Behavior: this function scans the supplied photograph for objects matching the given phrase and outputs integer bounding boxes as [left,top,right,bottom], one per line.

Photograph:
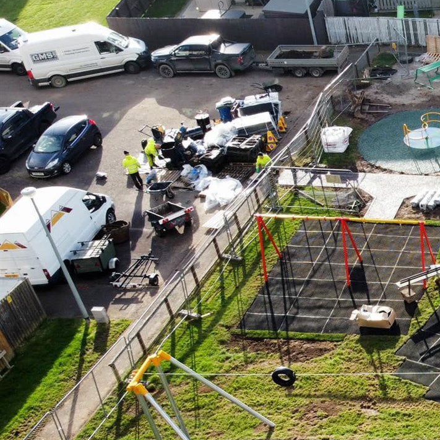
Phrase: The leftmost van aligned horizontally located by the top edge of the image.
[14,19,152,88]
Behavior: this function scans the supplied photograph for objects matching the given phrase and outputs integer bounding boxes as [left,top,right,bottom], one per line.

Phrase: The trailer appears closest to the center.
[140,195,195,235]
